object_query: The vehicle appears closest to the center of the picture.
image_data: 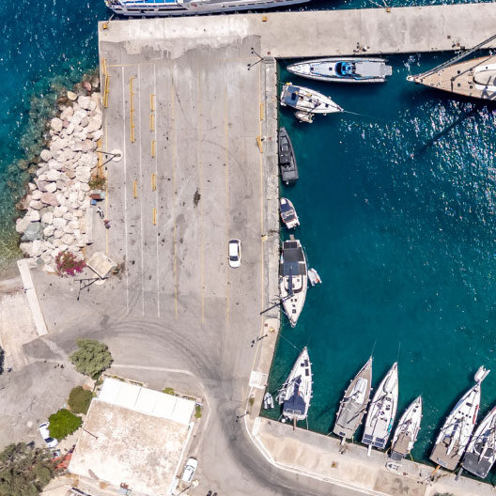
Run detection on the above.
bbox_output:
[227,239,240,266]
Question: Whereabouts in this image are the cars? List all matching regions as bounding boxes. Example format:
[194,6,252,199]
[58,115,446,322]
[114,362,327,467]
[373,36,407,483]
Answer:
[180,455,199,484]
[227,239,240,266]
[35,420,59,448]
